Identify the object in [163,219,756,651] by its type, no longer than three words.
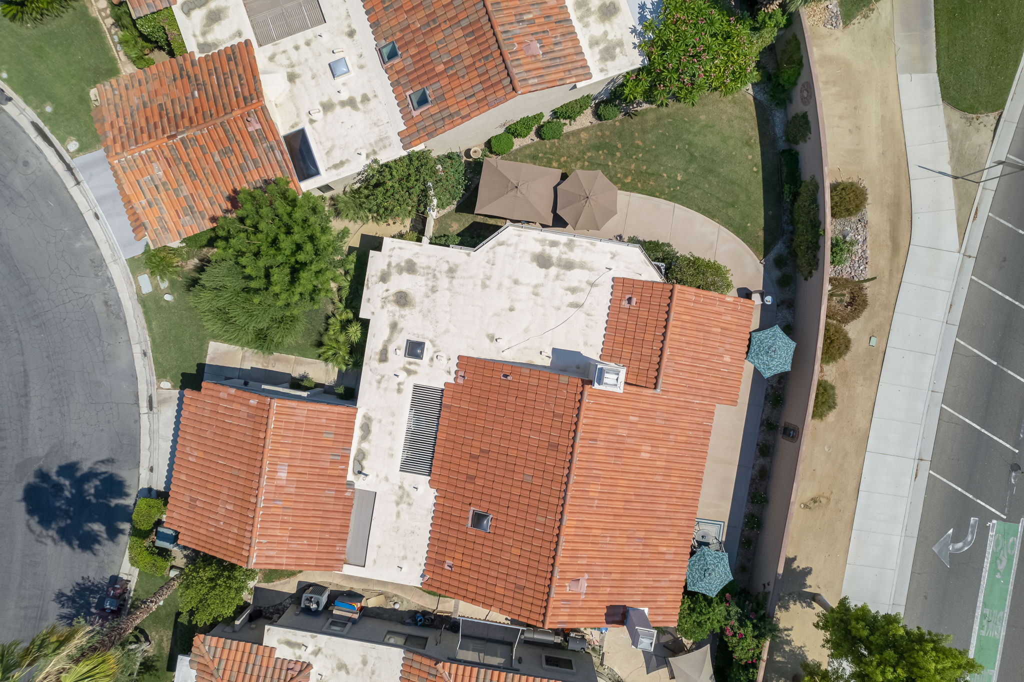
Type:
house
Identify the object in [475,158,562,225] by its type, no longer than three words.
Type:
umbrella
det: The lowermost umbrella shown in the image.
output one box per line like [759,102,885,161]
[657,644,713,682]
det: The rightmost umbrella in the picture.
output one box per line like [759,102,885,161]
[746,325,797,378]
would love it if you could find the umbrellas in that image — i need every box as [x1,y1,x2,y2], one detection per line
[746,325,797,378]
[657,644,713,682]
[557,170,617,230]
[475,158,562,225]
[687,546,733,598]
